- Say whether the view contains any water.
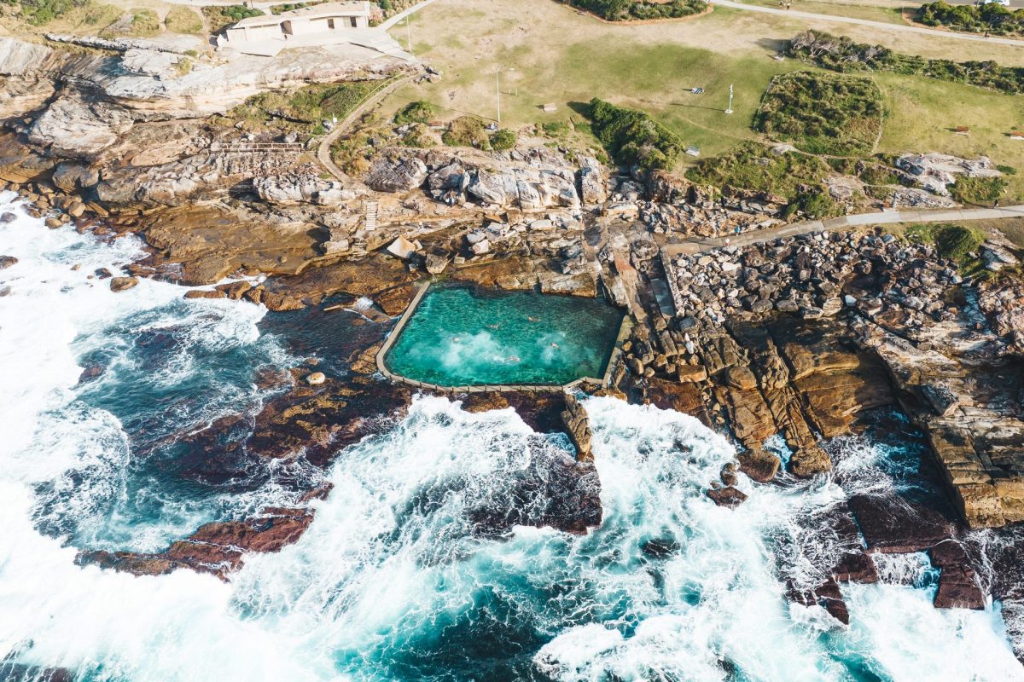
Yes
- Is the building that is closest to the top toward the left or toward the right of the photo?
left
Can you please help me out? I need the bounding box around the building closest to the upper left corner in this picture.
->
[219,0,370,40]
